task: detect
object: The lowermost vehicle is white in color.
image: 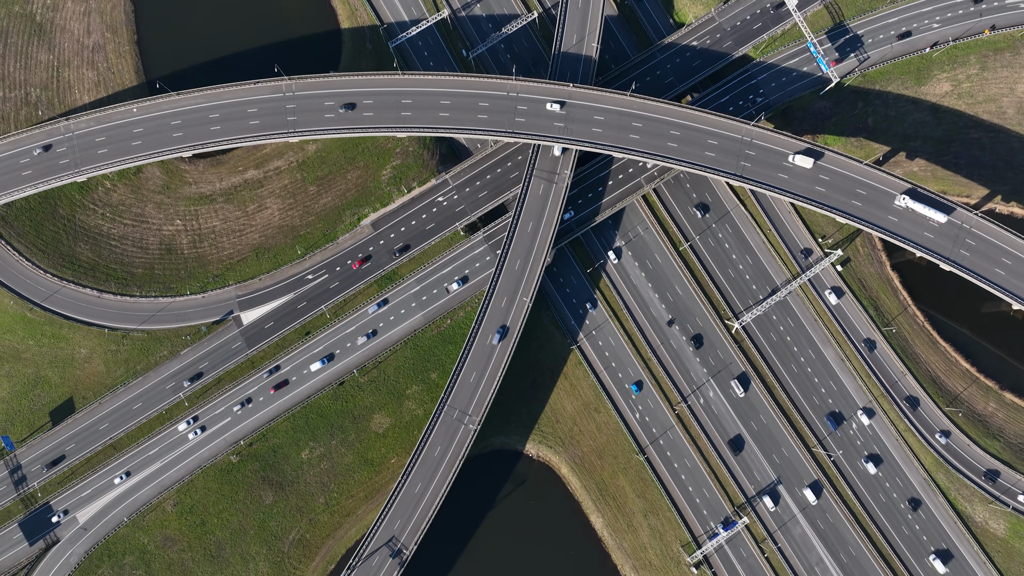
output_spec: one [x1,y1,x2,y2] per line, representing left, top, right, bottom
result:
[928,555,946,574]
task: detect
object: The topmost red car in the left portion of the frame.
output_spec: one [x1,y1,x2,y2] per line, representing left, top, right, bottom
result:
[353,257,368,269]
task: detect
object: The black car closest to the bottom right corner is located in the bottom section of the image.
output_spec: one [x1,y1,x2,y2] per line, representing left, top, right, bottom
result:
[981,471,997,485]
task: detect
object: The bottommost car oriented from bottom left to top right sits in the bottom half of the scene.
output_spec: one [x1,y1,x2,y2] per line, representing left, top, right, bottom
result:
[49,510,67,524]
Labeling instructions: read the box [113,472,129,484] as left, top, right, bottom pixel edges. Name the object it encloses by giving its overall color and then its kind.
white vehicle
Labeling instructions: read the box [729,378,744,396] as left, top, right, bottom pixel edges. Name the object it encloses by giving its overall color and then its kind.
white vehicle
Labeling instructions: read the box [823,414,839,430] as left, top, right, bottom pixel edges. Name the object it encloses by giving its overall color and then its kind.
blue vehicle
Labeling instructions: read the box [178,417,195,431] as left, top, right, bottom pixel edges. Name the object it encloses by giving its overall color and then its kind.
white car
